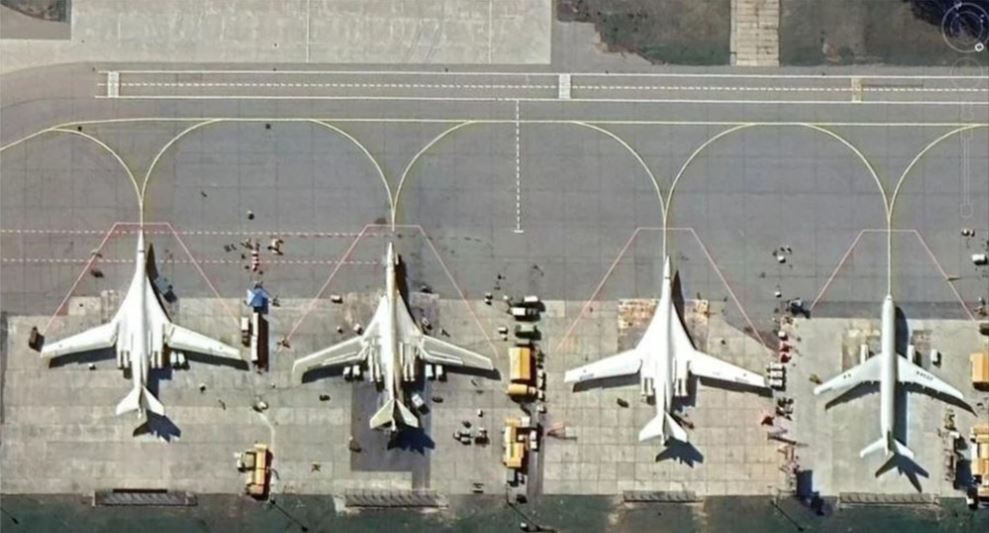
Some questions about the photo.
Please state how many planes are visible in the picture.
4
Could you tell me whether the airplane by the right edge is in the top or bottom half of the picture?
bottom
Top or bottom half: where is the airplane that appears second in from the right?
bottom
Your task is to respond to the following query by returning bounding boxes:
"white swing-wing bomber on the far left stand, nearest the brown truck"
[39,230,240,418]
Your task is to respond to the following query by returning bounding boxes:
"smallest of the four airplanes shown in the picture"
[815,295,962,457]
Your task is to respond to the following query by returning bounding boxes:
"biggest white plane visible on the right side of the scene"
[564,257,766,444]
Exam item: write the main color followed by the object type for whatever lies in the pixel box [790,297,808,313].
gray work vehicle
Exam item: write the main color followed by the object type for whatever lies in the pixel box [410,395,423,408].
white vehicle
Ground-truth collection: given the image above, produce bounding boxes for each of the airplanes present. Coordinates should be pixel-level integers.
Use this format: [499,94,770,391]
[292,241,494,431]
[815,295,962,457]
[564,257,766,444]
[39,230,240,418]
